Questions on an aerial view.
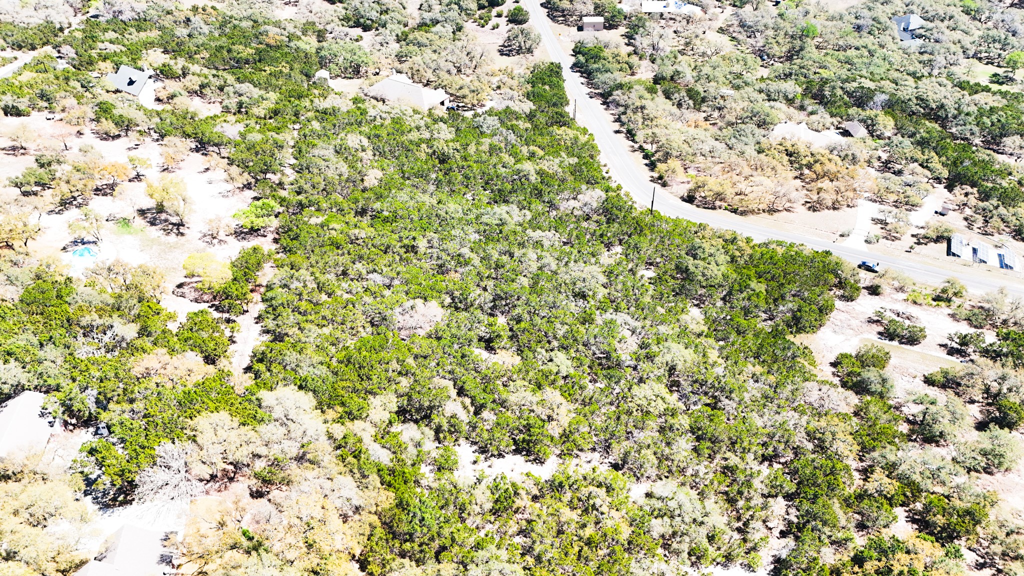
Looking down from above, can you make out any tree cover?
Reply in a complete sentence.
Yes, there's tree cover in this view.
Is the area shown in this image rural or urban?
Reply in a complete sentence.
The land in this view is best described as rural.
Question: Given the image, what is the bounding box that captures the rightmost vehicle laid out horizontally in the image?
[856,263,881,275]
